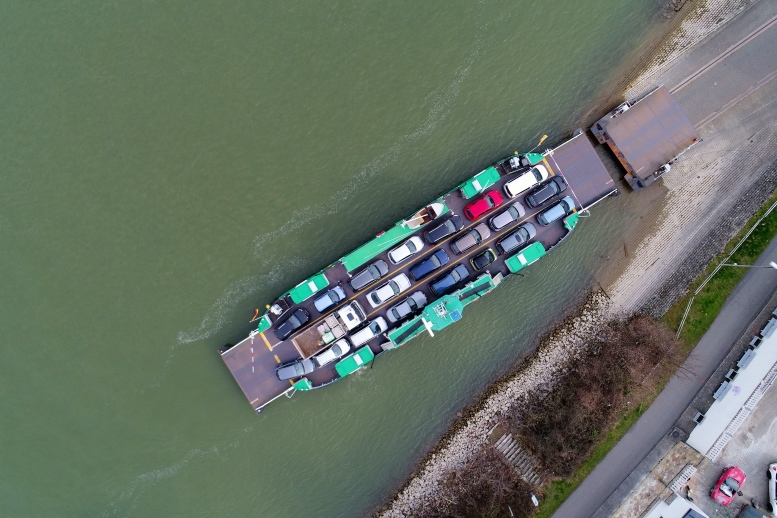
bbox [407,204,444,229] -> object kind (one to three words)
boat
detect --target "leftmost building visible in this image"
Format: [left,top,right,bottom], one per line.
[637,485,701,518]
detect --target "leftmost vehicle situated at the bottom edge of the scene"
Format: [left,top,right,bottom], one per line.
[709,464,746,505]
